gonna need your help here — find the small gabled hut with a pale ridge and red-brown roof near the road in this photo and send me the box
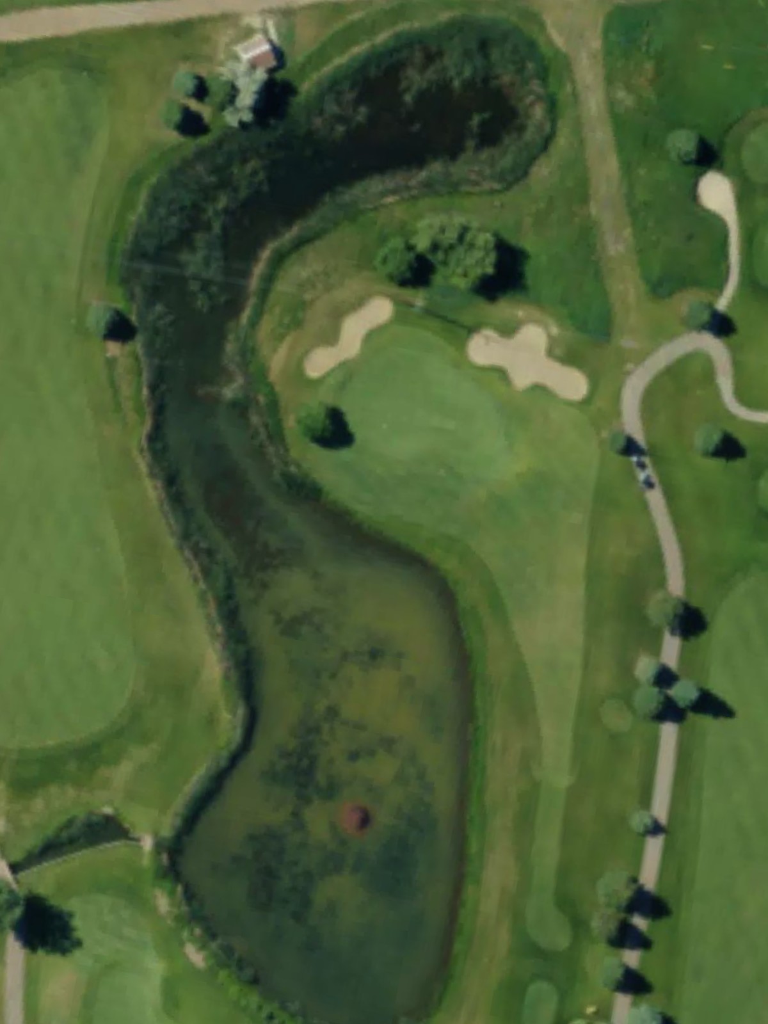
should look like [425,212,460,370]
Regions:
[236,31,276,68]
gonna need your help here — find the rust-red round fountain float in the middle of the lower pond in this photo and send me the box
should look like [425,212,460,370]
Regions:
[346,806,372,831]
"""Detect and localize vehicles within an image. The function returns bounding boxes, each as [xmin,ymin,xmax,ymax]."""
[638,473,649,489]
[632,453,643,470]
